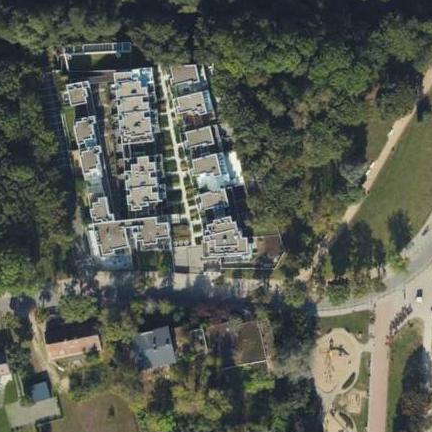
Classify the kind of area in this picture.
residential area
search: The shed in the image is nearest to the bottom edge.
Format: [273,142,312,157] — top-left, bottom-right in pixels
[32,381,53,402]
